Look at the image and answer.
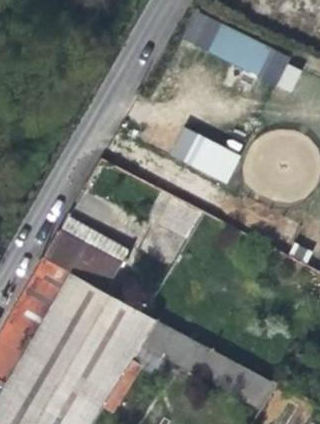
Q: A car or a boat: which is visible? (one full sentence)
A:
The one in the frame is a car.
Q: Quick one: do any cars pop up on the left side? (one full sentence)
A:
Yes, on the left side there is a car.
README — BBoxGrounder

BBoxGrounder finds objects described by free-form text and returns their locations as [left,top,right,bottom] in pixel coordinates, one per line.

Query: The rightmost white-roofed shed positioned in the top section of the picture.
[278,64,302,92]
